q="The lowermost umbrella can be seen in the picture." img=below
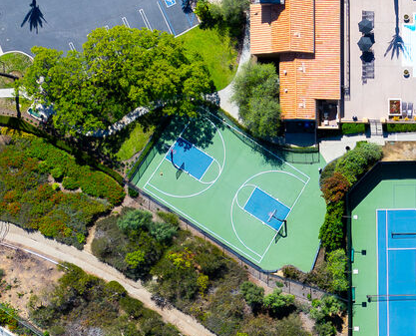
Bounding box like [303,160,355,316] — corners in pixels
[359,37,372,52]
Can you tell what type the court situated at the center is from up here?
basketball court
